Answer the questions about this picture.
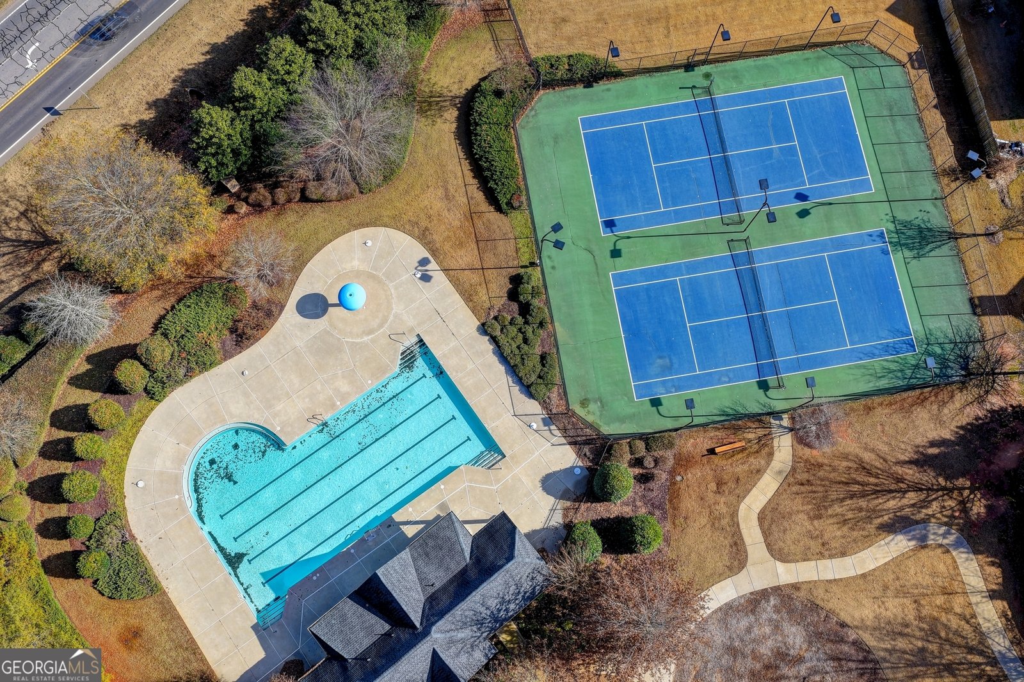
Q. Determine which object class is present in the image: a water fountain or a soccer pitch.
water fountain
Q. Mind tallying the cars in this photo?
1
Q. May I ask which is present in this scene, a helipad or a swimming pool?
swimming pool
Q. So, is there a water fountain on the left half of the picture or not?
Yes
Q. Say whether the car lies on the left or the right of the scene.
left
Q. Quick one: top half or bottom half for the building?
bottom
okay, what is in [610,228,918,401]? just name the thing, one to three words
tennis court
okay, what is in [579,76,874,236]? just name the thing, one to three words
tennis court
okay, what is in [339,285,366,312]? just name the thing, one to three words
fountain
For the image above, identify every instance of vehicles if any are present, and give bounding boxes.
[82,6,134,52]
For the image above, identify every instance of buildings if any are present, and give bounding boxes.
[301,509,552,682]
